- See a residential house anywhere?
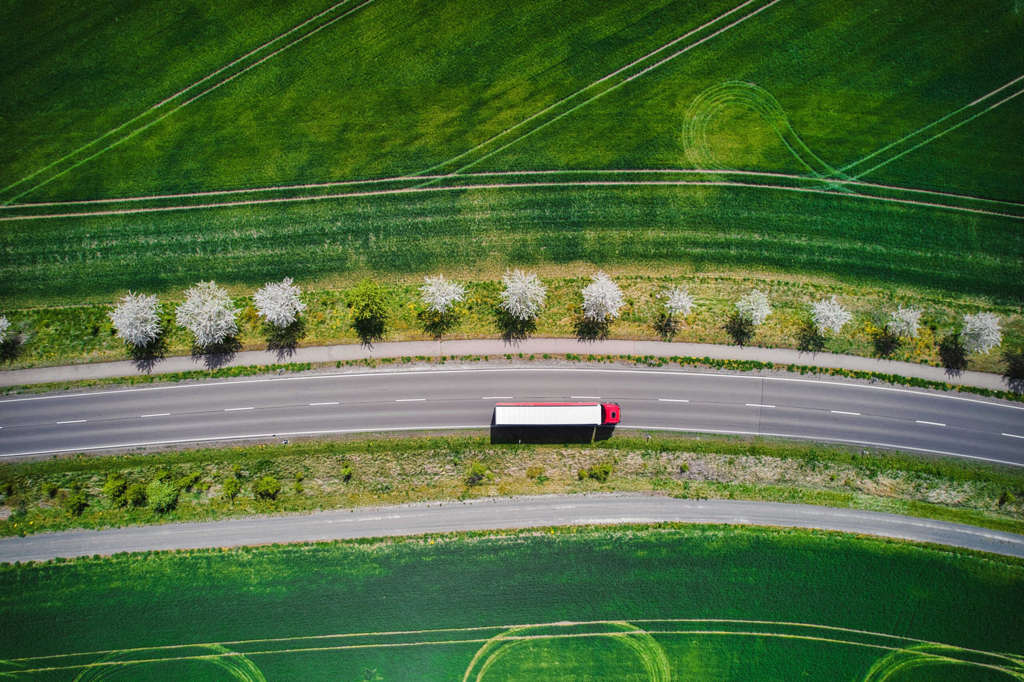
No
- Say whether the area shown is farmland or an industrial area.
farmland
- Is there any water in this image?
No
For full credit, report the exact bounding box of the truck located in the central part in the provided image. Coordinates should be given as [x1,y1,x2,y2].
[496,402,621,425]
